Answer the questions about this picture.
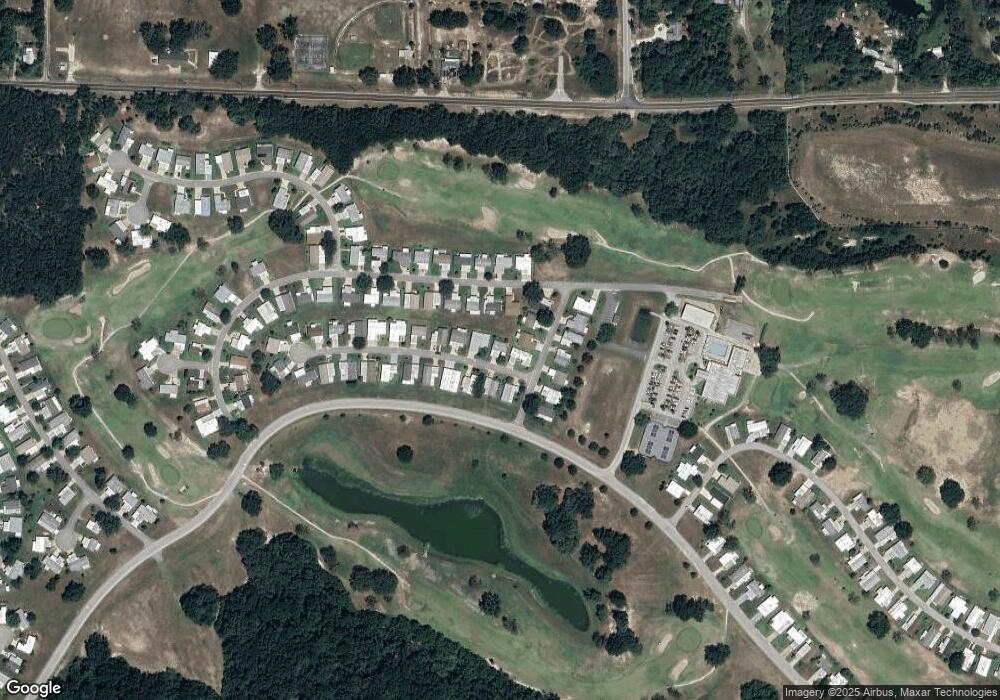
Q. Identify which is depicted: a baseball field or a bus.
baseball field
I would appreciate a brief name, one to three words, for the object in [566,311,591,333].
house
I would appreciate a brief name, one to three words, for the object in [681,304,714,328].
building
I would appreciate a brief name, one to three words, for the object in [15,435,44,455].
house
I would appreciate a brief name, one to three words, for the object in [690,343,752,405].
building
